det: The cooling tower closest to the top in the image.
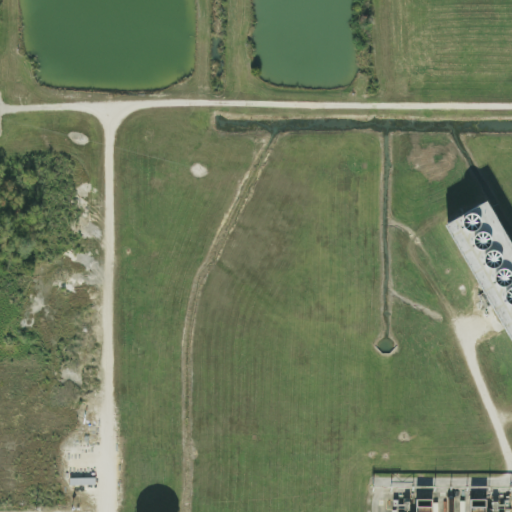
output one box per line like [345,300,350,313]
[444,200,512,342]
